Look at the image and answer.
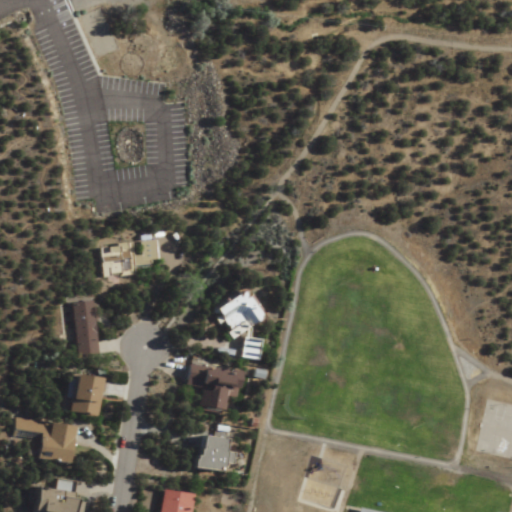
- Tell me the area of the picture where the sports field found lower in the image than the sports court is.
bottom right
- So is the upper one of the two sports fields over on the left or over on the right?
right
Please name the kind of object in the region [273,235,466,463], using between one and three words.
sports field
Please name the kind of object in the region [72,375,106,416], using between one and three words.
house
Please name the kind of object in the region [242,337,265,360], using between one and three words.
shed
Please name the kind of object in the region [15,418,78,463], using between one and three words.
house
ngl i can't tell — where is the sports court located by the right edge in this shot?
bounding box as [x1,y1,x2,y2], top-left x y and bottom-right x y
[477,399,512,458]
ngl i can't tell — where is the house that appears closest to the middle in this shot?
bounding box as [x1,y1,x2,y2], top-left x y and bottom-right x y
[218,291,268,340]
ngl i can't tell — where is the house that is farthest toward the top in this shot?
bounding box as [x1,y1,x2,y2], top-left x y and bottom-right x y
[100,239,160,278]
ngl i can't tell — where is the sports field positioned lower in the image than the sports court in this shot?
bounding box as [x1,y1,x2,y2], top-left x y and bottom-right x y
[348,453,512,512]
